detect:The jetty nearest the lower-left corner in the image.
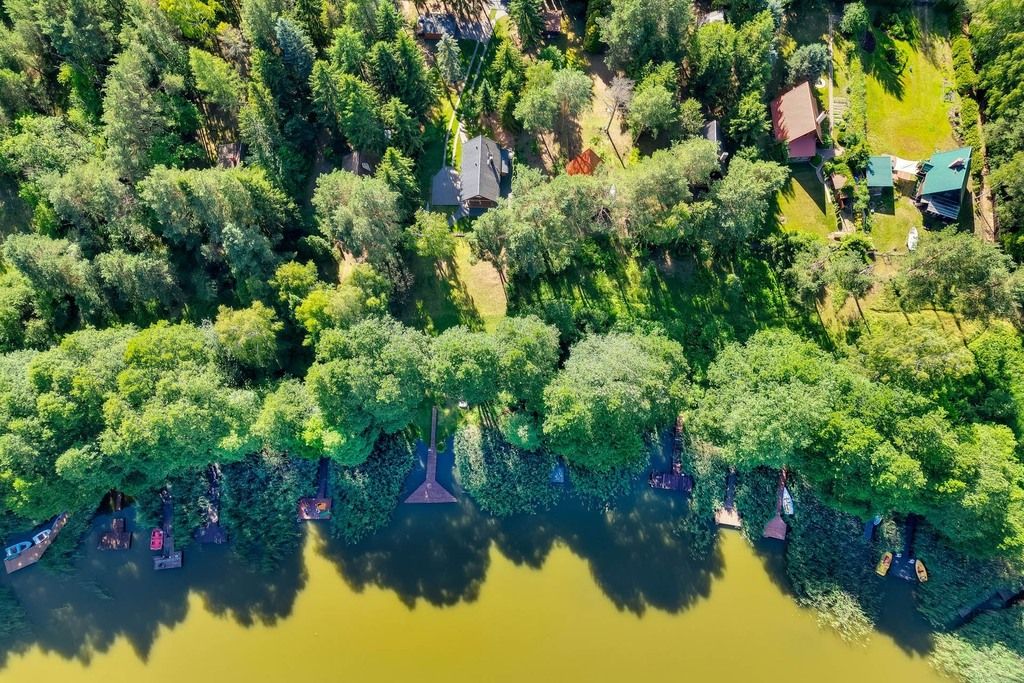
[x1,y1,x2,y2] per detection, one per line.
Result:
[4,513,69,573]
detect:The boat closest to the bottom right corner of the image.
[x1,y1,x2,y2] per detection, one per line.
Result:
[916,559,928,583]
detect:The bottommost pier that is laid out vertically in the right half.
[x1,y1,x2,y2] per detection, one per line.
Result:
[888,515,916,582]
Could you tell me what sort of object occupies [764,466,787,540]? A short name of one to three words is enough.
pier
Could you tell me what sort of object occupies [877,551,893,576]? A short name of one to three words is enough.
boat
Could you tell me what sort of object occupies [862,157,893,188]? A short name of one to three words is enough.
shed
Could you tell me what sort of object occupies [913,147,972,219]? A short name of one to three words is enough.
house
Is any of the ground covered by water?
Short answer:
Yes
